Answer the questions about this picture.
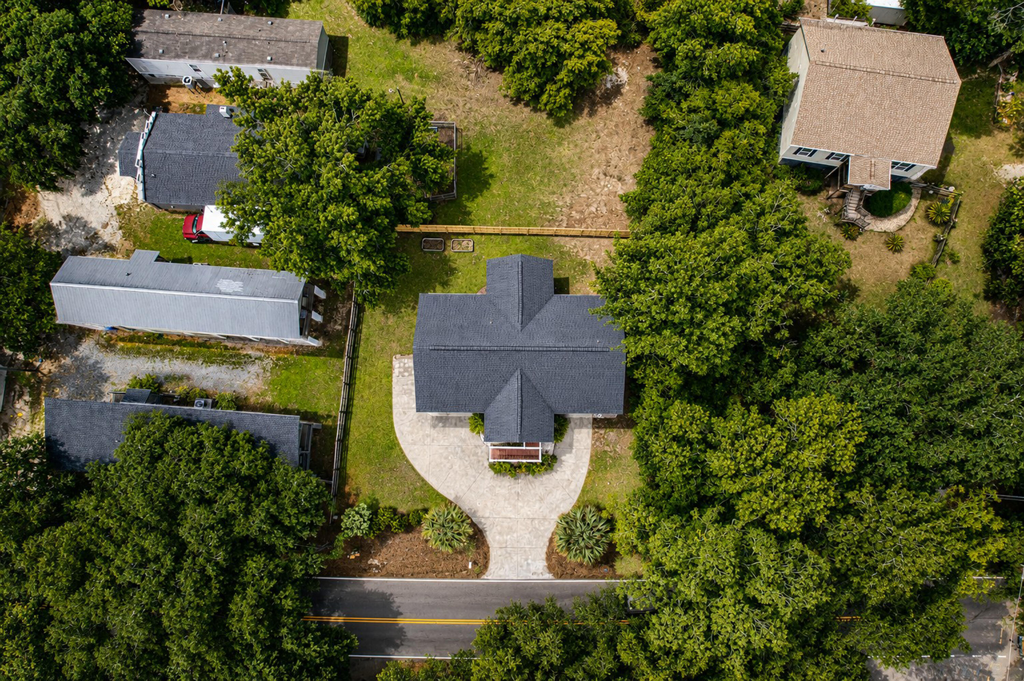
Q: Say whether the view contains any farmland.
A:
No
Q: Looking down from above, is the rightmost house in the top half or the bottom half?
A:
top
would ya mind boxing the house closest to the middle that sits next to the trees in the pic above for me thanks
[412,254,628,463]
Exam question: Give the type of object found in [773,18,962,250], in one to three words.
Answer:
house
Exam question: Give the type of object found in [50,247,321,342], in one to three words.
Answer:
house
